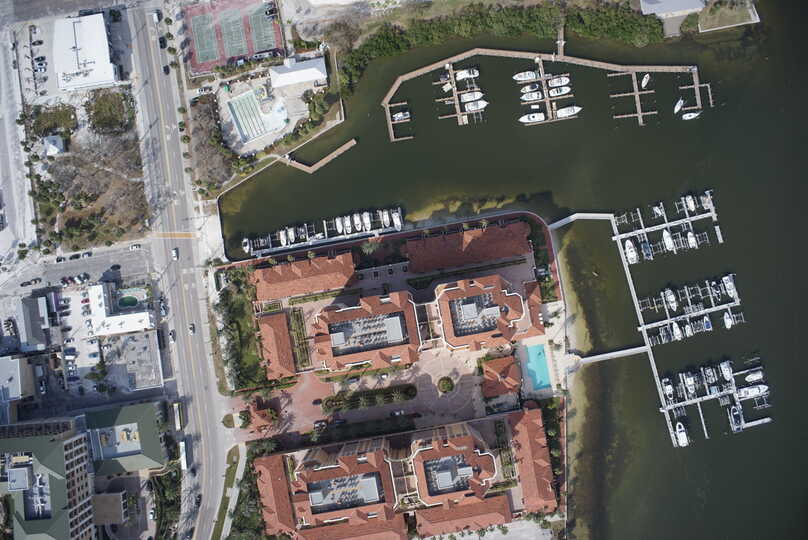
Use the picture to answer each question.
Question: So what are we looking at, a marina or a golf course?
marina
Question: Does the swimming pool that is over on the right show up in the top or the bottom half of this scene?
bottom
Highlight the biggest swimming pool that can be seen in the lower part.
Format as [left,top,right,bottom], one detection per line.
[526,343,552,392]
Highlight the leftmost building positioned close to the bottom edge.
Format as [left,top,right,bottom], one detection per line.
[0,415,110,540]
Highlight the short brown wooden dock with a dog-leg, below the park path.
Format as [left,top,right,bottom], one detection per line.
[275,138,357,174]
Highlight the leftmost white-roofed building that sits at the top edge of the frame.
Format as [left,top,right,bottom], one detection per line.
[53,13,123,92]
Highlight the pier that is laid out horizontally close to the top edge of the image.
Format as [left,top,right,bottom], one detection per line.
[379,12,713,141]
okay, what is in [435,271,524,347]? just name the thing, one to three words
building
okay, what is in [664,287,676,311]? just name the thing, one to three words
boat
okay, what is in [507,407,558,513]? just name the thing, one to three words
building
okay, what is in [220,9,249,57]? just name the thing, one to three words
tennis court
